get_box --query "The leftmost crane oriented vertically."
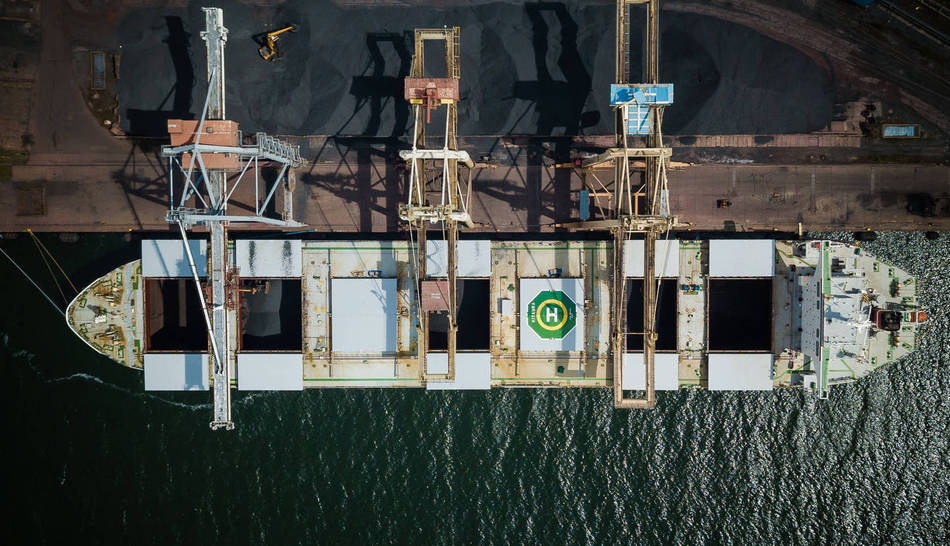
[157,7,317,431]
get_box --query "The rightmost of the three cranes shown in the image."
[547,0,702,408]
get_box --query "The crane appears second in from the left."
[386,28,497,385]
